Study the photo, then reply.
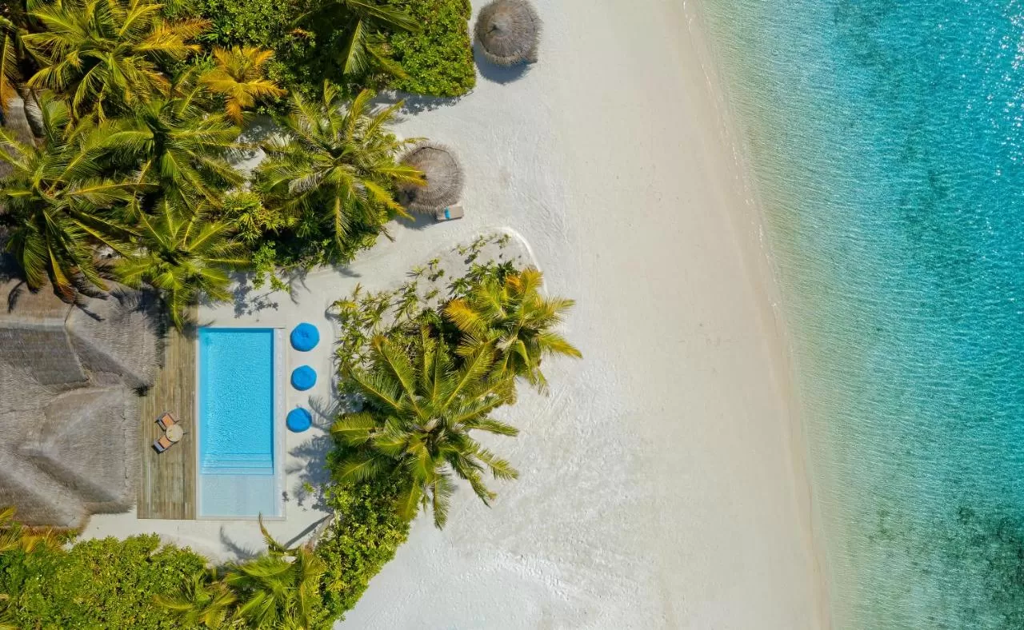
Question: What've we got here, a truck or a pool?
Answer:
pool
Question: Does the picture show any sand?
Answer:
Yes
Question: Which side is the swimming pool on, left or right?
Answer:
left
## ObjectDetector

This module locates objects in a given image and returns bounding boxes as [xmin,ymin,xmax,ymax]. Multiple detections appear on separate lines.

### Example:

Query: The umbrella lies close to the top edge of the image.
[476,0,543,67]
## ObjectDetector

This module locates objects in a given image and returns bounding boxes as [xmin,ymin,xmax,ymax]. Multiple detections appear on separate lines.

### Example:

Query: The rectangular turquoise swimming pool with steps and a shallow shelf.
[195,324,286,521]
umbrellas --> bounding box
[400,146,468,215]
[476,0,543,67]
